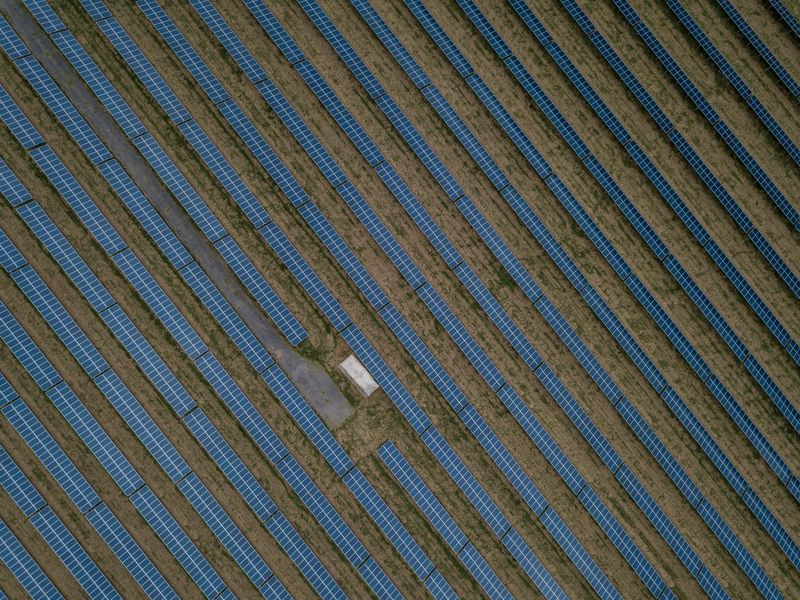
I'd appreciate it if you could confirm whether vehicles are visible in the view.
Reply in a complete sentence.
No, the frame has no vehicle in it.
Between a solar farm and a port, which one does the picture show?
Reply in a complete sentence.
This looks like a solar farm.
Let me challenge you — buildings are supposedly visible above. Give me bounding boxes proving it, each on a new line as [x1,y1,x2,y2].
[337,353,378,399]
